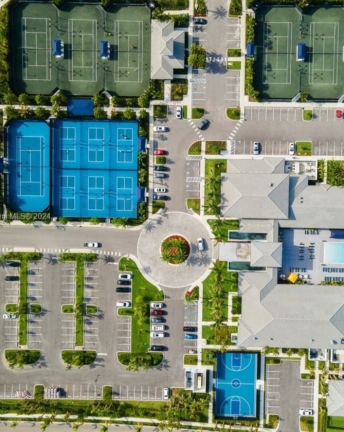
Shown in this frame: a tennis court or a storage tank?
tennis court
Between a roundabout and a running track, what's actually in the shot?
roundabout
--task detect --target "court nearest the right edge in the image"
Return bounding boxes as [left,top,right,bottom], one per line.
[301,5,344,98]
